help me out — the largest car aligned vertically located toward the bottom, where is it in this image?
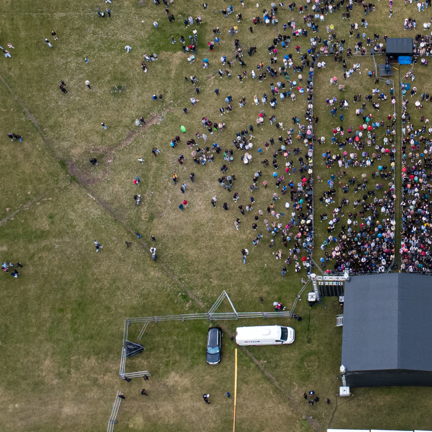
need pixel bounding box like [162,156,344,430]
[203,326,224,367]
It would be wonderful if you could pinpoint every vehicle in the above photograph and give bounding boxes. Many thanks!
[236,325,295,346]
[203,326,224,367]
